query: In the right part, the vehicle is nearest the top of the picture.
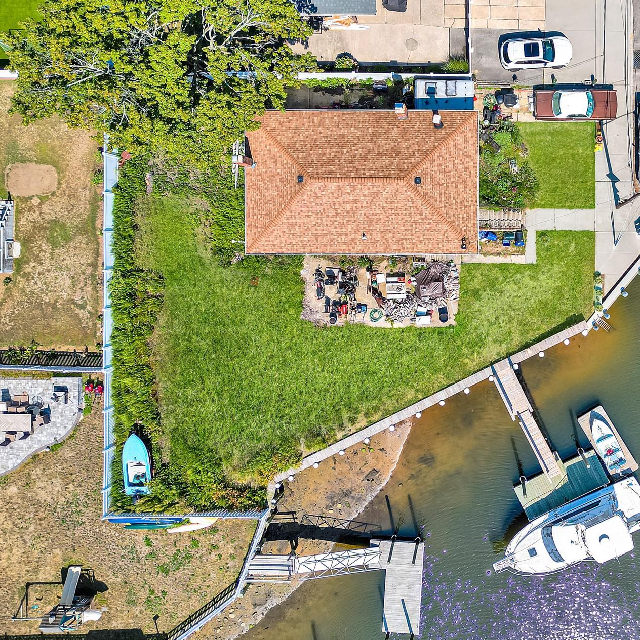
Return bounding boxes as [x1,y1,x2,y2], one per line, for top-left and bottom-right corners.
[500,32,573,71]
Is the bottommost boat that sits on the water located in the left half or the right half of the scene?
right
